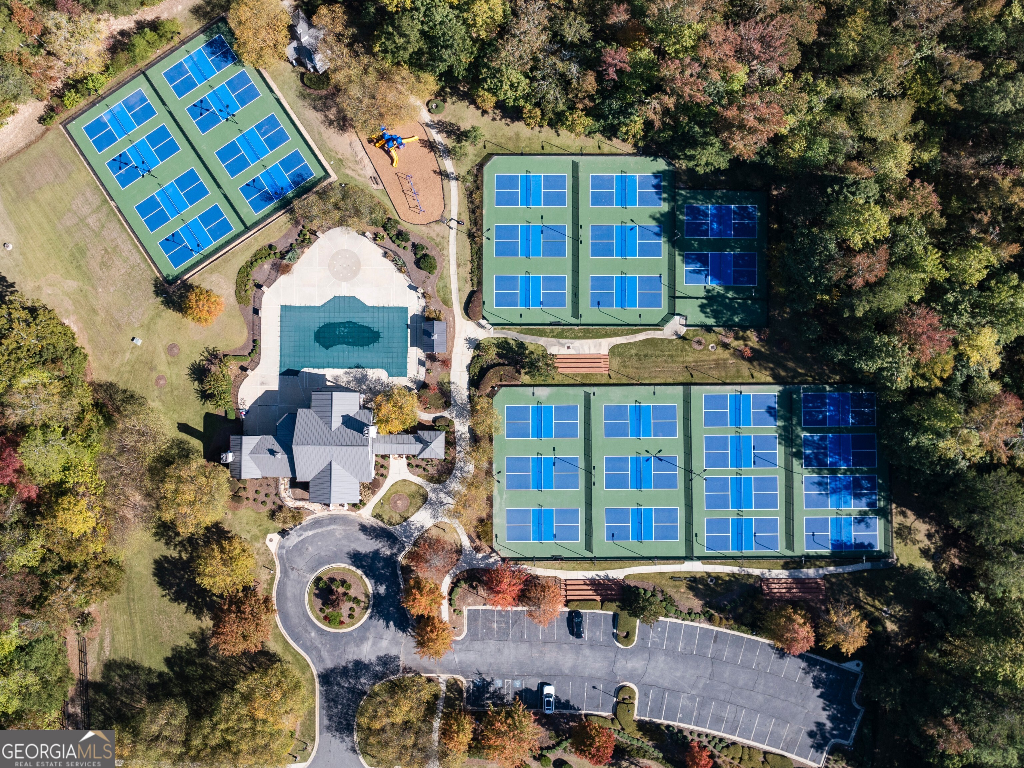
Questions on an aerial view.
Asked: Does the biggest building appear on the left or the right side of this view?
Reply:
left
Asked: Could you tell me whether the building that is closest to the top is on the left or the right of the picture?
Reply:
left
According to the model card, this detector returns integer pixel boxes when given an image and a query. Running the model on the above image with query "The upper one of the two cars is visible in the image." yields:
[573,612,585,640]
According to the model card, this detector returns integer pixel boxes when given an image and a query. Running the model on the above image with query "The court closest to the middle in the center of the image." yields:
[505,403,579,439]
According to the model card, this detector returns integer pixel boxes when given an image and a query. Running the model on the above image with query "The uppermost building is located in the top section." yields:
[287,9,334,74]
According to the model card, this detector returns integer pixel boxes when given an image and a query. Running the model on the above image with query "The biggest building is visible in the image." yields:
[222,392,445,510]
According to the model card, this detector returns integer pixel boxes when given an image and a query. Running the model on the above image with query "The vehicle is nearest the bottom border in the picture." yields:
[542,686,555,715]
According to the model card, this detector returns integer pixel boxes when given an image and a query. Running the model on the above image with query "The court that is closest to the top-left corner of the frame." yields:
[81,87,159,154]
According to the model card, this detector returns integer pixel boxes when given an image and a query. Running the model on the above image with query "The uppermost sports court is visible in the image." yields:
[161,33,238,100]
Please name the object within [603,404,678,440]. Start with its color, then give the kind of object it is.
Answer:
blue sports court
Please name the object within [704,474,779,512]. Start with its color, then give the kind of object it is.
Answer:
blue sports court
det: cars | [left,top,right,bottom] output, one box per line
[573,612,585,640]
[542,686,555,715]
